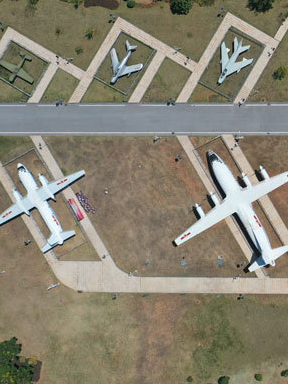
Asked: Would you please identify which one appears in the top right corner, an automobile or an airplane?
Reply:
airplane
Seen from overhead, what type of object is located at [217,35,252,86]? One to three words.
airplane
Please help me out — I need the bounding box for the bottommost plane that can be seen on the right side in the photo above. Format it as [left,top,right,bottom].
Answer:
[172,150,288,273]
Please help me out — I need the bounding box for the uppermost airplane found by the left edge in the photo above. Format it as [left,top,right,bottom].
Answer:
[0,51,34,84]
